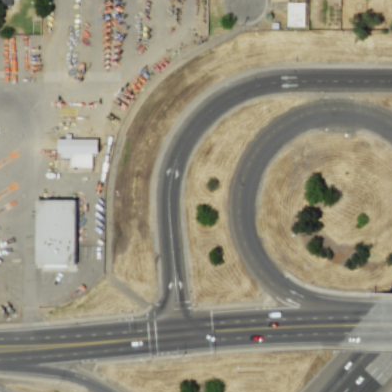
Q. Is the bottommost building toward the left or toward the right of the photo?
left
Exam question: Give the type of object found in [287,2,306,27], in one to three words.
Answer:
building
